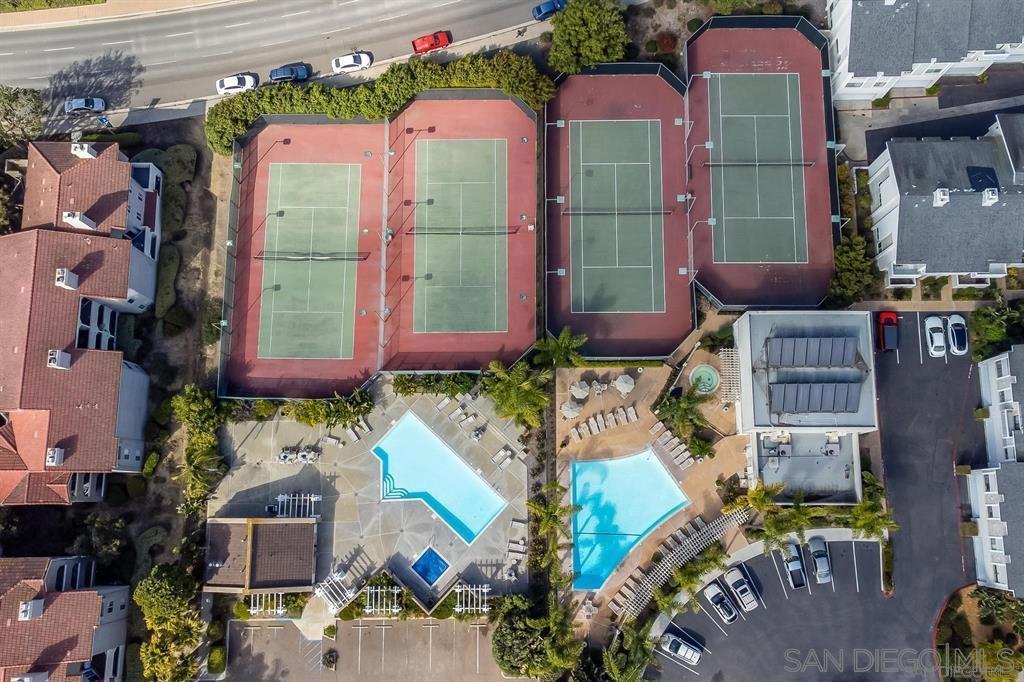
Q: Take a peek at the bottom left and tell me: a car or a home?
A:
home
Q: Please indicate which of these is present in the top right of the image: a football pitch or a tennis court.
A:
tennis court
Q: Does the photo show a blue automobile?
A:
Yes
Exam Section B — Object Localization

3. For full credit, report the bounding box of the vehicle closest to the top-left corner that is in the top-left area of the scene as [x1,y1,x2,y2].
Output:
[64,96,107,115]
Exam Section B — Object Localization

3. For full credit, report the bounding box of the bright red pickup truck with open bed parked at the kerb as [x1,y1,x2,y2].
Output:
[410,30,452,55]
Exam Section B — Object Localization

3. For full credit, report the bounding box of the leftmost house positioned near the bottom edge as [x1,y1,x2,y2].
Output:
[0,553,131,682]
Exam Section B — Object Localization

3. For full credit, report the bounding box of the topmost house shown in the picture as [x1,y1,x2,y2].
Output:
[827,0,1024,103]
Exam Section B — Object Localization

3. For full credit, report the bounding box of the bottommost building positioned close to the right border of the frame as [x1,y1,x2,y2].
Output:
[965,464,1024,599]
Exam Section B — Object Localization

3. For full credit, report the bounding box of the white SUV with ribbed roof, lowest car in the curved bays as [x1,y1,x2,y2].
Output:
[660,631,702,669]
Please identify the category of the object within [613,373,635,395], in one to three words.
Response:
umbrella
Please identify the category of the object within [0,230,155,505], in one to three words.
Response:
house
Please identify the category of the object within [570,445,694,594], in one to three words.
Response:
swimming pool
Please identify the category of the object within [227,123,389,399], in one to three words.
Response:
tennis court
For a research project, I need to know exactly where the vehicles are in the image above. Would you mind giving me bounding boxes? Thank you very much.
[269,62,310,85]
[922,317,946,358]
[331,52,372,75]
[660,631,702,669]
[781,542,809,589]
[64,96,107,115]
[703,582,739,626]
[529,0,569,22]
[945,315,968,356]
[807,538,832,585]
[410,30,452,55]
[215,72,258,94]
[725,567,759,612]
